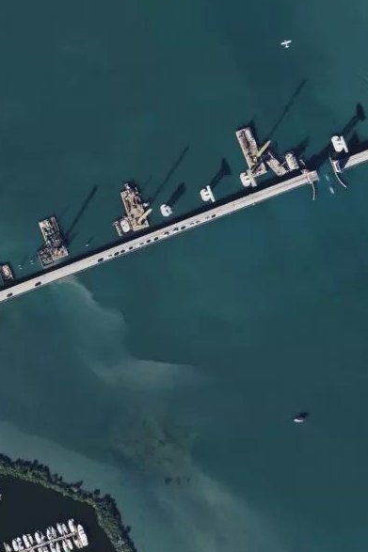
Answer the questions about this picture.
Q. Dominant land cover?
water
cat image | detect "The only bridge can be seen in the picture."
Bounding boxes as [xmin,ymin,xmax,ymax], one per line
[0,148,368,301]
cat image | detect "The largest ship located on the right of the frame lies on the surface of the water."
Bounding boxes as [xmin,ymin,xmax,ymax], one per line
[236,127,267,174]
